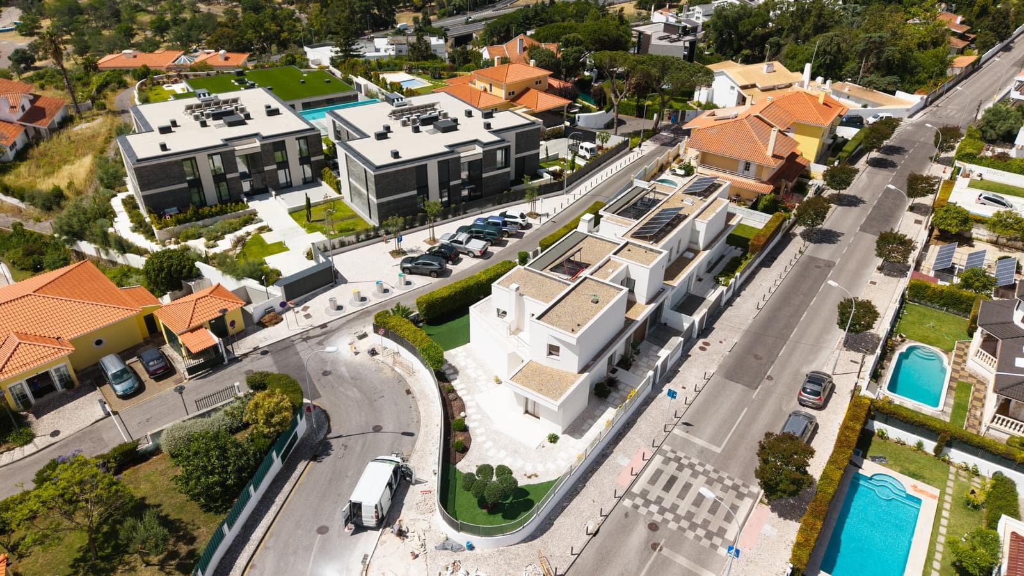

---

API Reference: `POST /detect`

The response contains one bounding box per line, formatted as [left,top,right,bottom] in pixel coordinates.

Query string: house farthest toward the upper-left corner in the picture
[0,80,67,157]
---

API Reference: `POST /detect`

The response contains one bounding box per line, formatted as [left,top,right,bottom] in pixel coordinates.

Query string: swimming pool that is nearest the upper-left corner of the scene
[296,97,384,130]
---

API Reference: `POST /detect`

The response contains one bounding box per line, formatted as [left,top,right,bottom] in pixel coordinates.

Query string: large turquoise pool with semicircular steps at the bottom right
[814,466,928,576]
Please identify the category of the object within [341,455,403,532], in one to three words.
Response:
van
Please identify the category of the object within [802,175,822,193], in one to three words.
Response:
car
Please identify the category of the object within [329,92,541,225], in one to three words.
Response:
building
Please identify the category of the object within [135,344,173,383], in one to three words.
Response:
car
